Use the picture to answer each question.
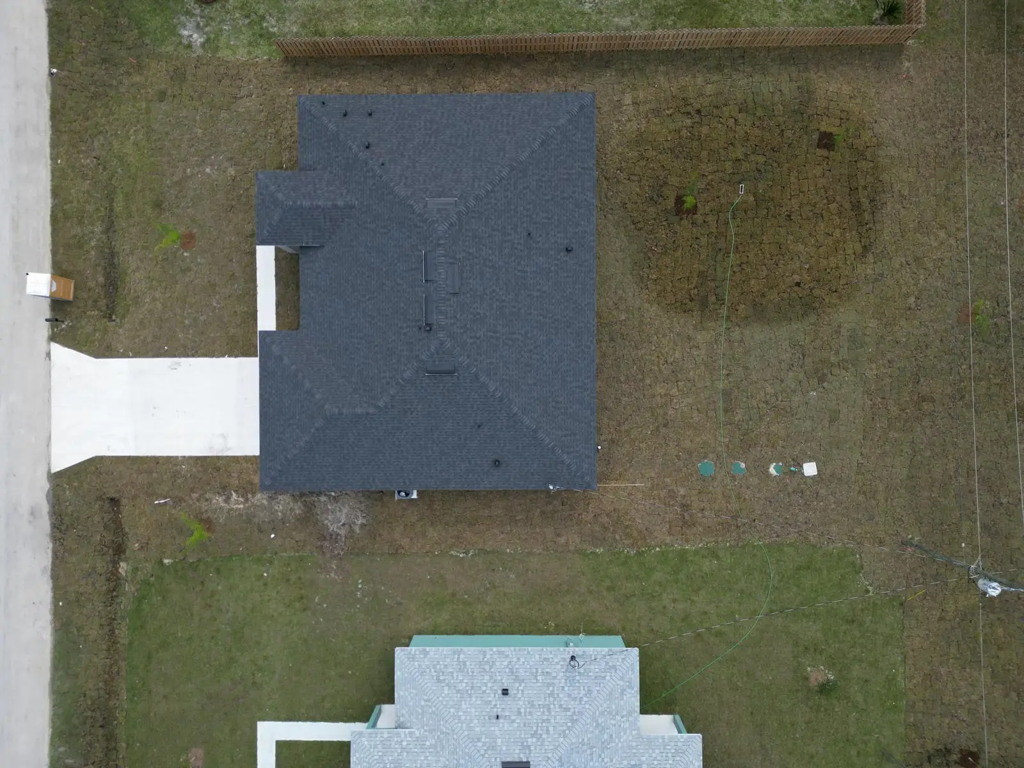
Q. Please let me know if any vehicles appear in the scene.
No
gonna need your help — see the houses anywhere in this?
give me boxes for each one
[256,92,596,494]
[350,622,702,768]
